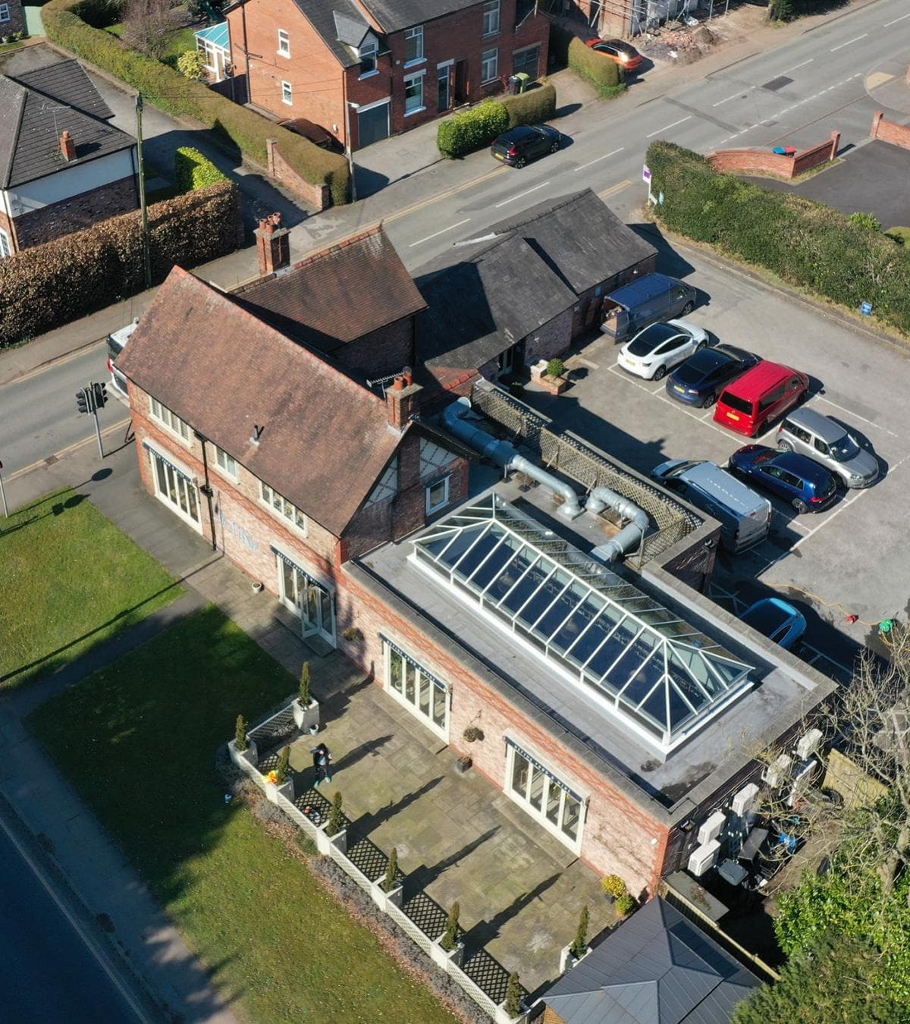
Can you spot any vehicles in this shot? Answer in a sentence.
Yes, this view includes a vehicle.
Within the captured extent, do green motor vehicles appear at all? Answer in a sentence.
No, the photo shows no green motor vehicle.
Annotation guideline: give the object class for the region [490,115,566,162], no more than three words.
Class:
car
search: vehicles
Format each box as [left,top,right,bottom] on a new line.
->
[103,326,145,385]
[664,340,766,411]
[773,396,890,486]
[736,594,812,653]
[490,115,566,162]
[637,450,778,553]
[725,433,846,511]
[615,316,715,383]
[587,269,708,349]
[712,354,817,436]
